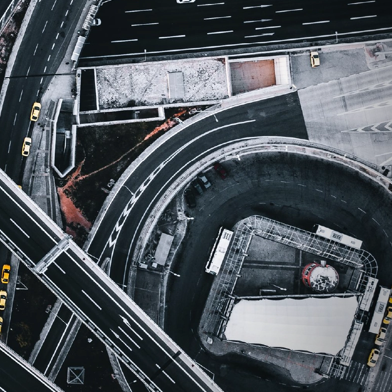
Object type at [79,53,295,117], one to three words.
building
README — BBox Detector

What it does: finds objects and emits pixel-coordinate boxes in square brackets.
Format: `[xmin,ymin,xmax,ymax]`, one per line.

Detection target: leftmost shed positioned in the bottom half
[149,231,174,266]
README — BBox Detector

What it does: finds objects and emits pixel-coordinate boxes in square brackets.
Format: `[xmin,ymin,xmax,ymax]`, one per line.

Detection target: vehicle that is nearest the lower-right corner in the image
[365,346,379,367]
